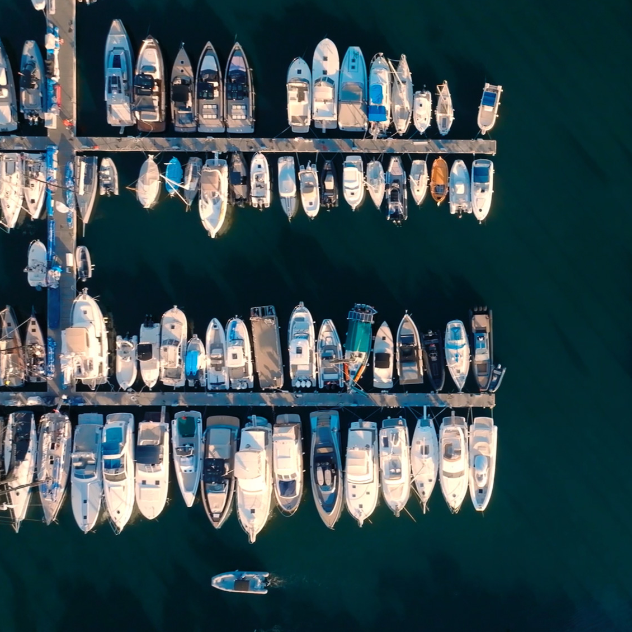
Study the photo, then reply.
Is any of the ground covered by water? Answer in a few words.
Yes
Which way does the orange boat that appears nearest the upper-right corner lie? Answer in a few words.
from top to bottom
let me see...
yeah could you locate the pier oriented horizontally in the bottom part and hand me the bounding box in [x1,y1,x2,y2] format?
[0,392,496,407]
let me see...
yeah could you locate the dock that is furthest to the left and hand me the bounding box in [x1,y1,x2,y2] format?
[0,135,47,151]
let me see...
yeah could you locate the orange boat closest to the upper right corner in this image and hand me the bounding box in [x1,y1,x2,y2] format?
[428,153,450,206]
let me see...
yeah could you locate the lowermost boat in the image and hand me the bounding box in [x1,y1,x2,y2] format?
[208,572,270,594]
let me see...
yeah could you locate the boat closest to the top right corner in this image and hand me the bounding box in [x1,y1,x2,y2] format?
[474,81,503,139]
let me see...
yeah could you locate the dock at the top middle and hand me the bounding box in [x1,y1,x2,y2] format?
[76,136,496,154]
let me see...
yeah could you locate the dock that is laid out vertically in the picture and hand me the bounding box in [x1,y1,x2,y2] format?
[47,0,77,392]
